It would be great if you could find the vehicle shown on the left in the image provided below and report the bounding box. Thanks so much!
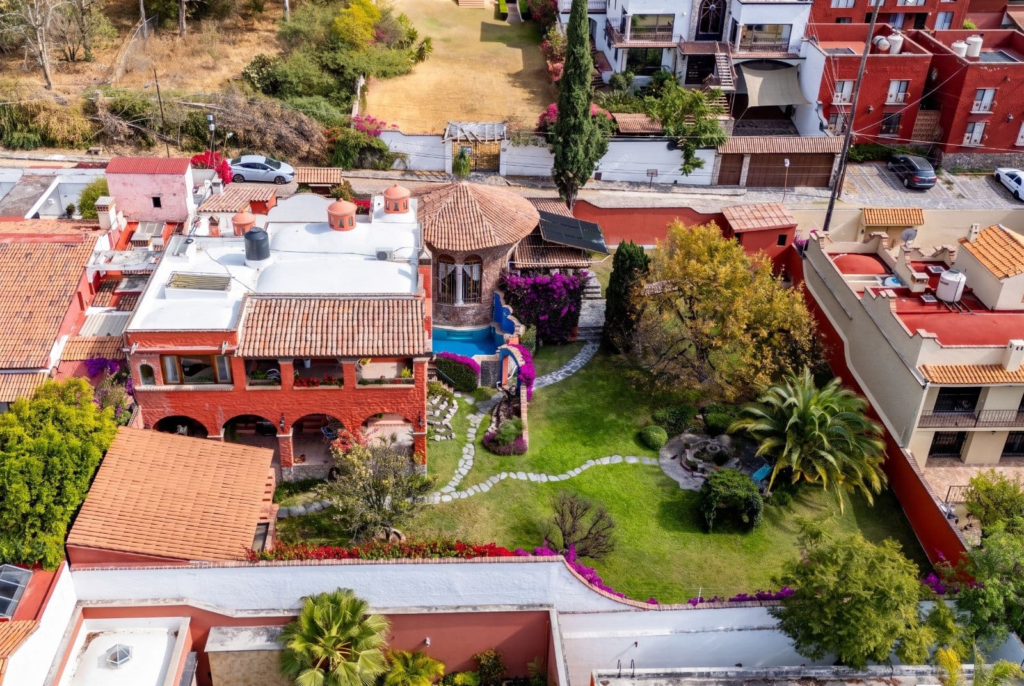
[229,158,296,185]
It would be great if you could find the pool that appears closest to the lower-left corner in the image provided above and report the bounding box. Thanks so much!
[430,321,507,389]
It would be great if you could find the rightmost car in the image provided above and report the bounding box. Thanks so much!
[989,168,1024,194]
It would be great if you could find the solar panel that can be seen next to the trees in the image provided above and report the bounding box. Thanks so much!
[538,211,608,314]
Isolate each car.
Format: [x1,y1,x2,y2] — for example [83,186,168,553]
[989,168,1024,194]
[229,158,296,185]
[882,153,940,184]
